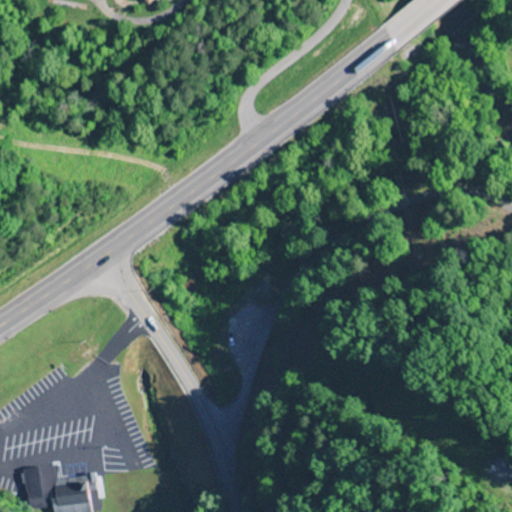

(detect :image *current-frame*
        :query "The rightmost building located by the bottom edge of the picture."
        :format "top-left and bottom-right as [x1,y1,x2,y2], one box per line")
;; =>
[54,482,92,512]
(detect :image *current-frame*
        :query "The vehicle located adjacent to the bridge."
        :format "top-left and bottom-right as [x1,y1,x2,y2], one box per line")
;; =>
[355,37,398,72]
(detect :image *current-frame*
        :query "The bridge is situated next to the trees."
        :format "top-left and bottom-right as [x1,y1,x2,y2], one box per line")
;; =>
[380,0,462,52]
